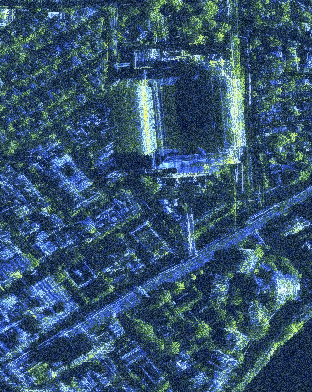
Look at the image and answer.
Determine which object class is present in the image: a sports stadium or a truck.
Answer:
sports stadium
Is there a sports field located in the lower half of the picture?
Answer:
No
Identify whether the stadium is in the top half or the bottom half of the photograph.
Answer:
top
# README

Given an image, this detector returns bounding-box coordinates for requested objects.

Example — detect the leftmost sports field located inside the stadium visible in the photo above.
[164,82,181,147]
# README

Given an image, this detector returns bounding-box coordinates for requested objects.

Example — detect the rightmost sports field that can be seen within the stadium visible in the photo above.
[179,81,224,146]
